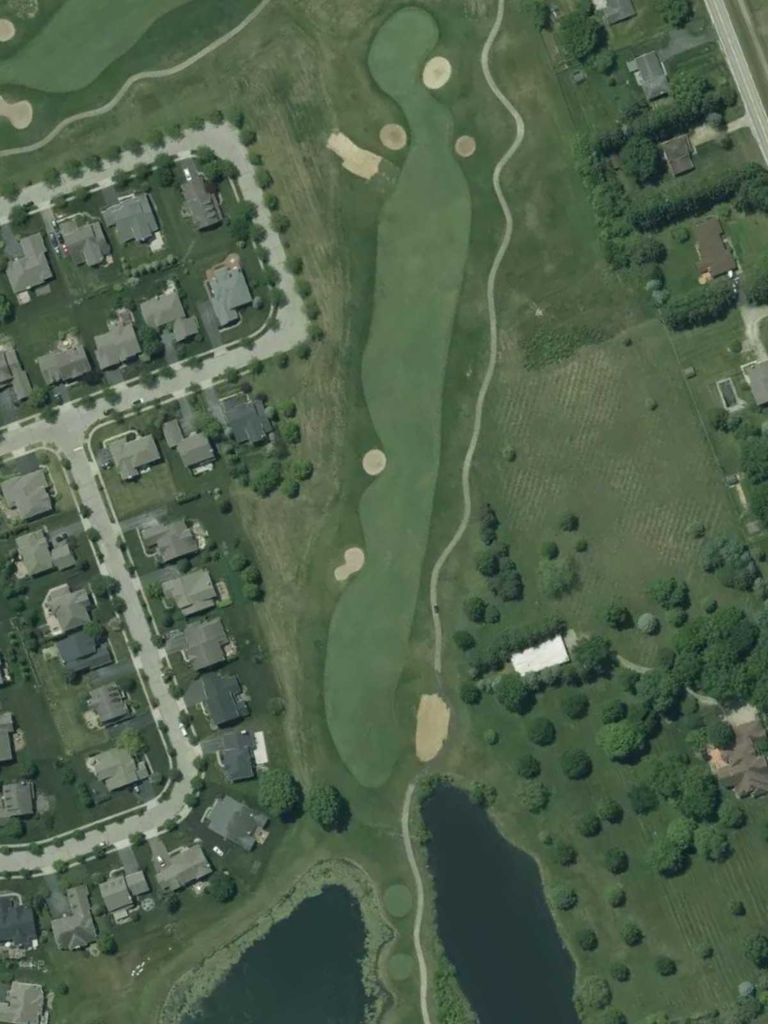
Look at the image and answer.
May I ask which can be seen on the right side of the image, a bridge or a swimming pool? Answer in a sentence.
You can see a swimming pool on the right side of the image.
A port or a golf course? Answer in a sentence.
This looks like a golf course.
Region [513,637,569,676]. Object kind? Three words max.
barn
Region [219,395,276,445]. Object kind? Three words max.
house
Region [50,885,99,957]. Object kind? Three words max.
house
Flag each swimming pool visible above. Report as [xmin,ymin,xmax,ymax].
[717,377,747,413]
